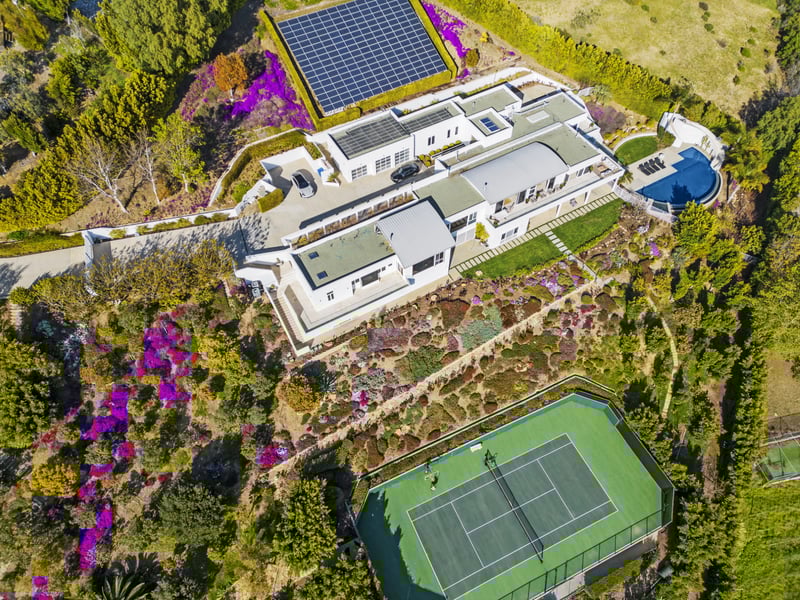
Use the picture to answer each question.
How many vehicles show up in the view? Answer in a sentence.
The count of vehicles comes to 2.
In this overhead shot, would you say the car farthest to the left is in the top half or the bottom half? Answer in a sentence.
The car farthest to the left is in the top half of the image.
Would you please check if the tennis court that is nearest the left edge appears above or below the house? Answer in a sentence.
The tennis court that is nearest the left edge appears below the house in the picture.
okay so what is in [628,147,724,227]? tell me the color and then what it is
blue swimming pool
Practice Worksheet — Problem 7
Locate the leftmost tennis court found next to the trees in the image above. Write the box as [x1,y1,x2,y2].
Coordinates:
[357,395,660,600]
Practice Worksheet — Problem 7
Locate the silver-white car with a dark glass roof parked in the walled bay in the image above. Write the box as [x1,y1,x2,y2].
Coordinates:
[291,172,314,199]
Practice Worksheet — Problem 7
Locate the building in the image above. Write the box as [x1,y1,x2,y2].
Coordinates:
[232,83,623,358]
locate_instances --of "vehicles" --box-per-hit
[388,161,423,182]
[291,172,314,199]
